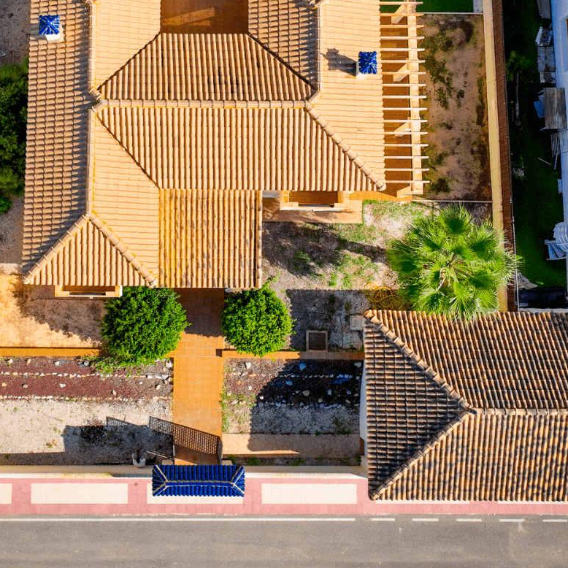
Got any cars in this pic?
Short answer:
No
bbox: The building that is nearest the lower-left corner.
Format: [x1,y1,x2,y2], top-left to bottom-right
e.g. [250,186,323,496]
[149,463,246,500]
